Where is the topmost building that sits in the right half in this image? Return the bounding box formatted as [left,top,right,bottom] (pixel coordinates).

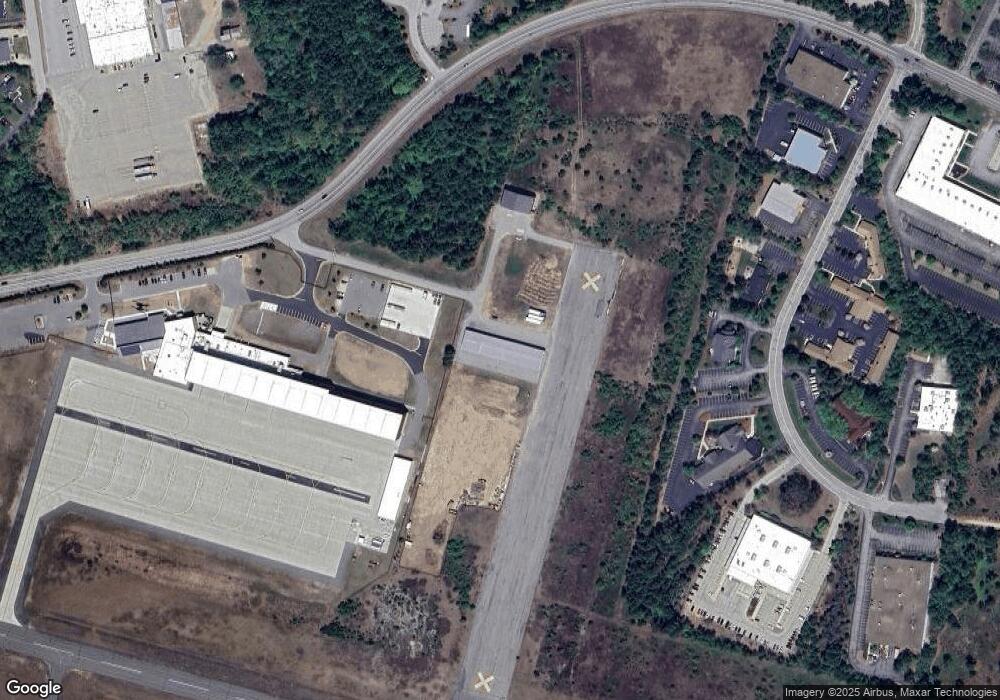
[785,49,851,107]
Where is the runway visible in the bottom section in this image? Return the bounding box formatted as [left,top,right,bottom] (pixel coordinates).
[452,245,621,700]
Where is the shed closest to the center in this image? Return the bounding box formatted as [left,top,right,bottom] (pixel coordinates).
[461,331,544,372]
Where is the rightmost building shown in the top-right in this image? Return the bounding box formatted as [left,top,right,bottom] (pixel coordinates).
[896,116,1000,243]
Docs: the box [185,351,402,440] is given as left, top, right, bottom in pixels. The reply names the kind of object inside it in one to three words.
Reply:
hangar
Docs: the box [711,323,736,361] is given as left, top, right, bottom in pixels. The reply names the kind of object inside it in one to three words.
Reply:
house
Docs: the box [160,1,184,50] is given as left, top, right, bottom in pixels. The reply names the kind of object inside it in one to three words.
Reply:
shed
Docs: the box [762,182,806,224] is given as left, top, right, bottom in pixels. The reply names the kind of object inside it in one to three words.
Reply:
building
